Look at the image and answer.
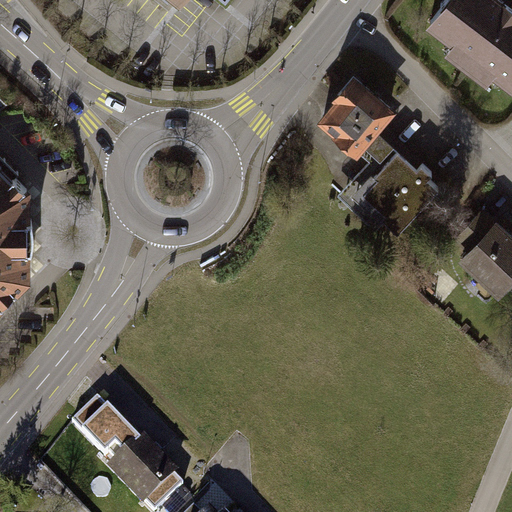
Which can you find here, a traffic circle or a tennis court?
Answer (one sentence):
The image shows a traffic circle.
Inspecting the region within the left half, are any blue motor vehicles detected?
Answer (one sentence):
Yes, there is a blue motor vehicle within the left half.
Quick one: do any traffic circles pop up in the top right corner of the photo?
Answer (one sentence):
No, no traffic circle is visible in the top right corner of the photo.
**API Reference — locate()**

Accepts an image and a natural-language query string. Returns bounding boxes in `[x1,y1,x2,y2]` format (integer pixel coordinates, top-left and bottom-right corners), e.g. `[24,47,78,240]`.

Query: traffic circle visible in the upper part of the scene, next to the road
[106,110,243,246]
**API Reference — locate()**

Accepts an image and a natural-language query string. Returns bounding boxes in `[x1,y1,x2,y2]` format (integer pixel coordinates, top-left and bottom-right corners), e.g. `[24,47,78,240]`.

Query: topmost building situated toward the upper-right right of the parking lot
[428,0,512,96]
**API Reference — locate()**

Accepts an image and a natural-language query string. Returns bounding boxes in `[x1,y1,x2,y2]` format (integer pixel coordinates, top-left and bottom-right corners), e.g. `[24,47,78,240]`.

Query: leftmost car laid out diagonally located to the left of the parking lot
[10,24,30,44]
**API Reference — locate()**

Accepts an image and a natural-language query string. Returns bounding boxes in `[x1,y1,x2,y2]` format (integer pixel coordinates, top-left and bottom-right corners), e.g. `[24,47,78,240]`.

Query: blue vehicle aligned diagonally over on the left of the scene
[66,98,86,118]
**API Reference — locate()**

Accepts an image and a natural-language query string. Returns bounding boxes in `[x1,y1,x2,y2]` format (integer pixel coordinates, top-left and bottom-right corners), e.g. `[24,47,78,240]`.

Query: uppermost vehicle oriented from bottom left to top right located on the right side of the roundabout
[400,118,422,143]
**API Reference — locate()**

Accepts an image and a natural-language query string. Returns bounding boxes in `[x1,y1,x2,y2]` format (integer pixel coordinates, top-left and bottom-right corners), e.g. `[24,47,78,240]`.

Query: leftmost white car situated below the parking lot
[105,97,126,114]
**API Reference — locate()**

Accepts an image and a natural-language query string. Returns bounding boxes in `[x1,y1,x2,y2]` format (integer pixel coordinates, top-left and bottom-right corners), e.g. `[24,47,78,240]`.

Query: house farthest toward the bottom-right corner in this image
[460,231,512,304]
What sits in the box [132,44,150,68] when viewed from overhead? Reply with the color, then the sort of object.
black car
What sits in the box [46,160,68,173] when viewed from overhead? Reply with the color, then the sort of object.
black vehicle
